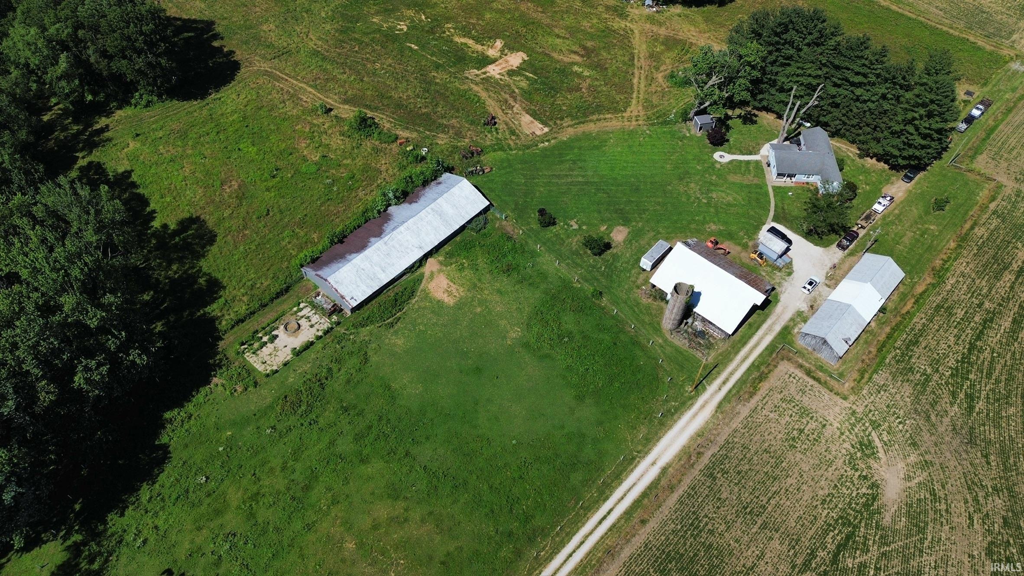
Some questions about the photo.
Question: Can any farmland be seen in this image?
Yes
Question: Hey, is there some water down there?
No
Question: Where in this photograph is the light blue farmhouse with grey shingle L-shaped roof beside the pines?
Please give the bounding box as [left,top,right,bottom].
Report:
[768,124,844,192]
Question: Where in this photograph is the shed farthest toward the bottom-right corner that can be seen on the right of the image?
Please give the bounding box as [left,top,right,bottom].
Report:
[799,253,905,363]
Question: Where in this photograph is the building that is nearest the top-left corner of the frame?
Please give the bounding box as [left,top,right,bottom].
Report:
[304,173,491,314]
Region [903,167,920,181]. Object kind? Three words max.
car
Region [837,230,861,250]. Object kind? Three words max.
vehicle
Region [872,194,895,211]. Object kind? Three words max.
vehicle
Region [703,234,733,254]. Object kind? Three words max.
work vehicle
